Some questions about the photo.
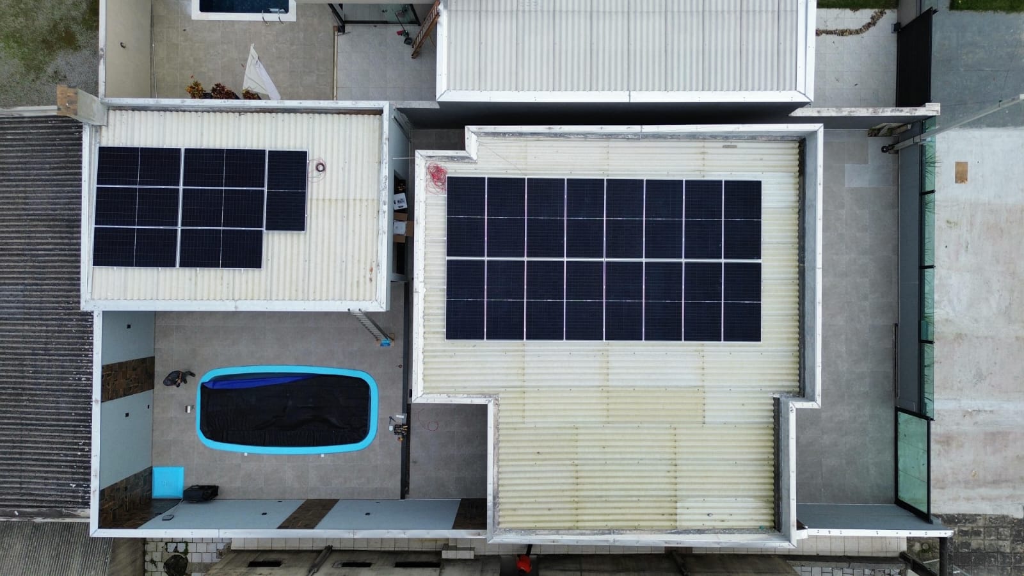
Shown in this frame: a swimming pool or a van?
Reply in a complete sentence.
Looking from above, you can make out a swimming pool.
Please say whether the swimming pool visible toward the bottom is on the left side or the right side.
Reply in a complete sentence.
The swimming pool visible toward the bottom sits on the left side.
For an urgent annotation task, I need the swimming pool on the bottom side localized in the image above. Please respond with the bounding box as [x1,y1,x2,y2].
[197,364,379,455]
